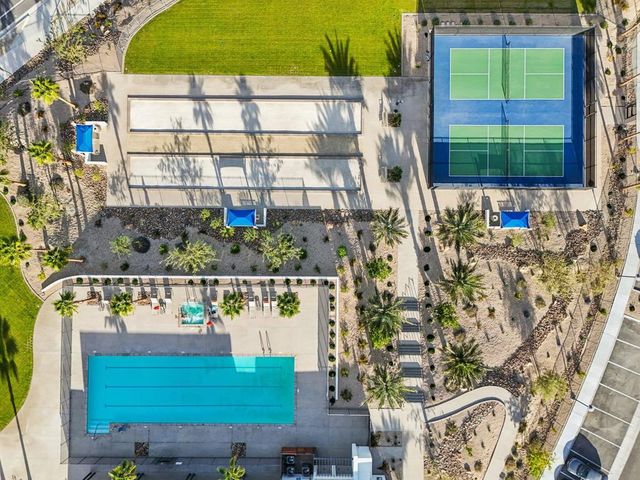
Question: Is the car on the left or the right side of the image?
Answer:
right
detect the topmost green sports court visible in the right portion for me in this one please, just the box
[450,41,564,102]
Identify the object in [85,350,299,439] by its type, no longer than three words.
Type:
swimming pool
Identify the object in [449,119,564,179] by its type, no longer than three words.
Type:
sports court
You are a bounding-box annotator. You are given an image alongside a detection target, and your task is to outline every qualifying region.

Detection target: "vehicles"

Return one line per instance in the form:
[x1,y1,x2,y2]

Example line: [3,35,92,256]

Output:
[565,457,608,480]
